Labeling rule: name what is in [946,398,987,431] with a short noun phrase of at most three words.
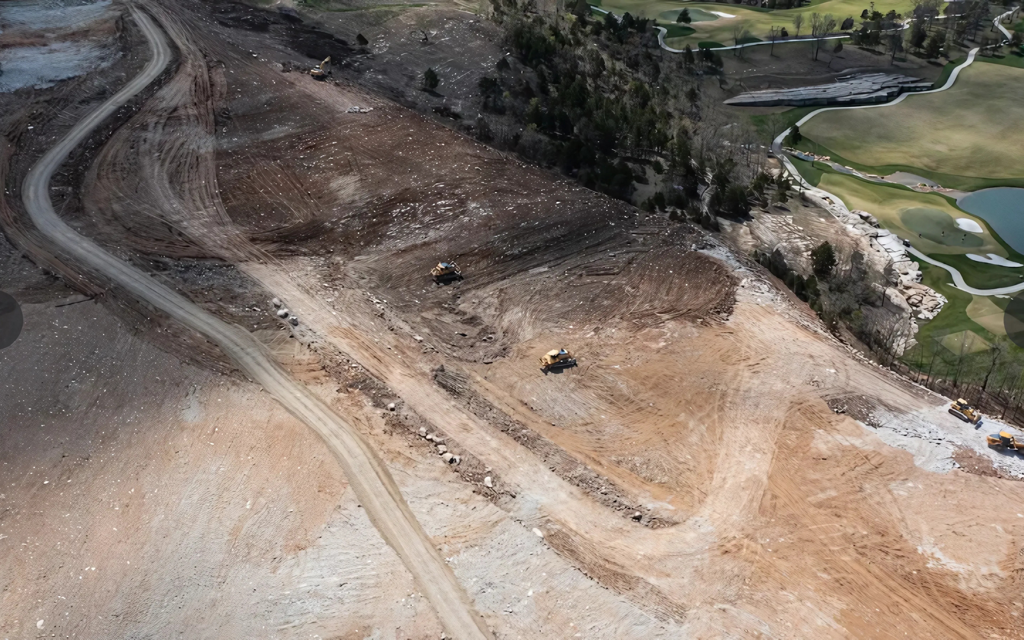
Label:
work vehicle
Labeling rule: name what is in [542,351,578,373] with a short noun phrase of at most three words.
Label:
work vehicle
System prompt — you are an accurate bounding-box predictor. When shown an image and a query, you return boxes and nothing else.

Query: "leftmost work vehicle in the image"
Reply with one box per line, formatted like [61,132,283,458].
[310,52,338,78]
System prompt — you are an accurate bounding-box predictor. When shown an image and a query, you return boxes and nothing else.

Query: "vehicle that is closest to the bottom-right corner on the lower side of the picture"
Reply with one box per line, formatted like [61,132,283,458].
[992,428,1024,454]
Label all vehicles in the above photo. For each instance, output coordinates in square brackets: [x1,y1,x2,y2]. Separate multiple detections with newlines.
[310,52,338,78]
[542,351,578,373]
[992,428,1024,454]
[946,398,987,431]
[432,263,463,283]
